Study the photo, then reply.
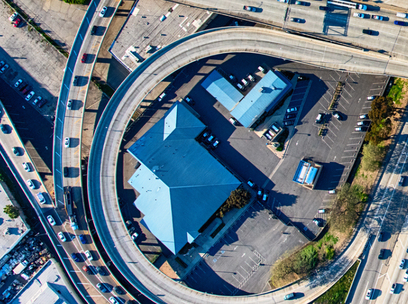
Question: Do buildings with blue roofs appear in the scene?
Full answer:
Yes, this view includes a building with a blue roof.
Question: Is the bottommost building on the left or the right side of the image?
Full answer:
The bottommost building is on the left side of the image.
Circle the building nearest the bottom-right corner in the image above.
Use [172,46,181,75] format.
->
[292,157,326,189]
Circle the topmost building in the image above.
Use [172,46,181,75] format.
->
[109,0,218,71]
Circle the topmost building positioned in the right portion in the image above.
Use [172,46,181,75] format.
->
[202,69,294,129]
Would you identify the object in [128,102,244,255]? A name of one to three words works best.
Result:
building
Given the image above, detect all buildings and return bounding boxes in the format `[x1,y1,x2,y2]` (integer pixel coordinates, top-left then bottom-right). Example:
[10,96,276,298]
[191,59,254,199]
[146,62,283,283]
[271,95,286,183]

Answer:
[0,168,38,264]
[128,102,244,255]
[109,0,218,71]
[292,157,326,189]
[202,69,294,129]
[8,256,87,304]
